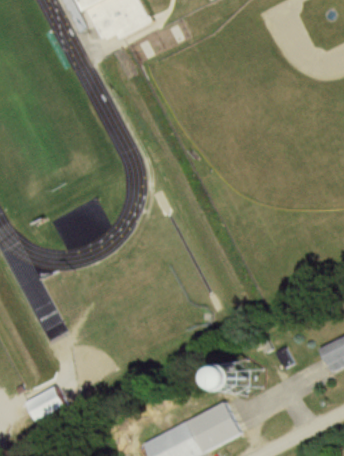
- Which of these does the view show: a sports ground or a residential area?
sports ground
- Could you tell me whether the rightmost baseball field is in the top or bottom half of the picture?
top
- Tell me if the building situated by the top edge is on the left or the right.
left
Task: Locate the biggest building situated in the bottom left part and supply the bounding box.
[26,386,62,421]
